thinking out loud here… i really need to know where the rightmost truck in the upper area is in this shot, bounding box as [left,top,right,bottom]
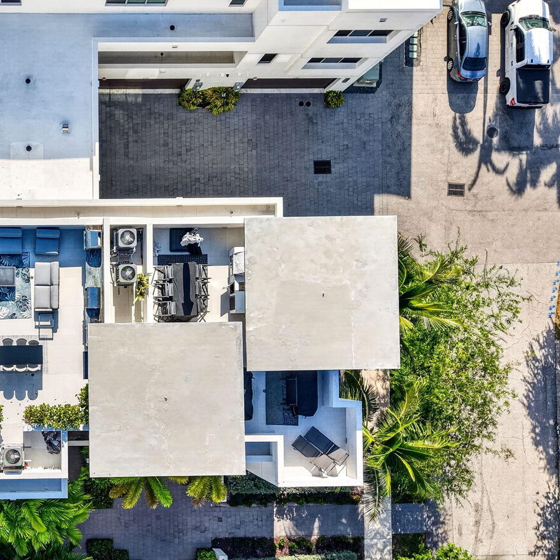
[501,0,556,108]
